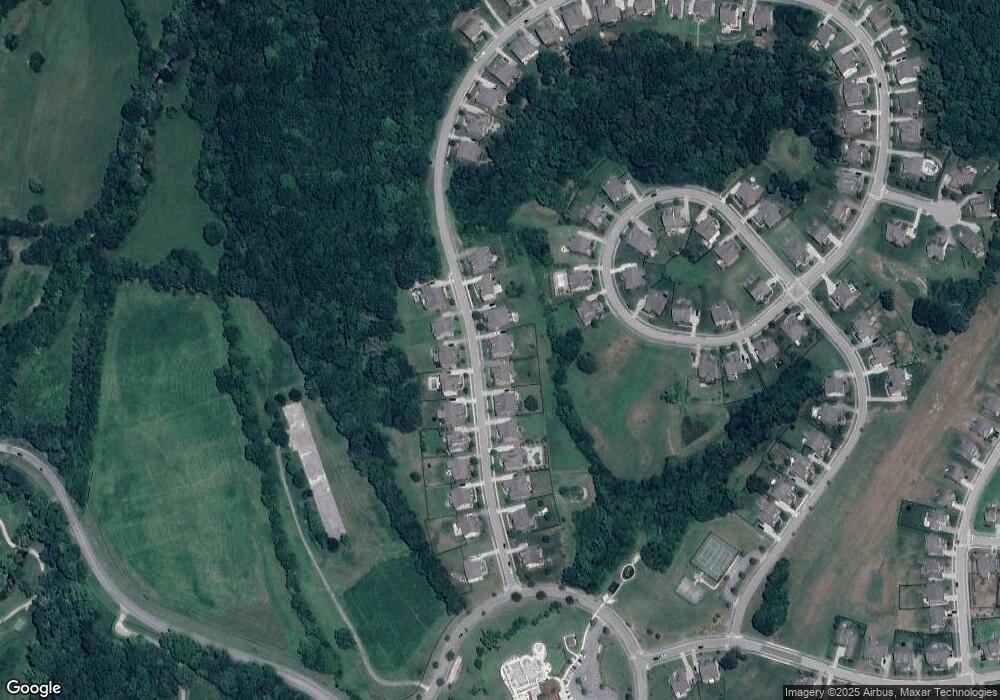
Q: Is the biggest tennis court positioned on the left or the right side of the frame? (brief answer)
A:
right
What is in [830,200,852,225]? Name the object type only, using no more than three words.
house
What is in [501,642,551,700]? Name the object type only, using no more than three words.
swimming pool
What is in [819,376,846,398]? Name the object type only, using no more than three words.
house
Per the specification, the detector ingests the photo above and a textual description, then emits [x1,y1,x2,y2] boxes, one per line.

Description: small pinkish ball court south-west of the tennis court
[676,578,705,604]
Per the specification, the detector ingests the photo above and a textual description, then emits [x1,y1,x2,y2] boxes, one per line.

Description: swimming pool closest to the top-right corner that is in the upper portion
[924,160,938,176]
